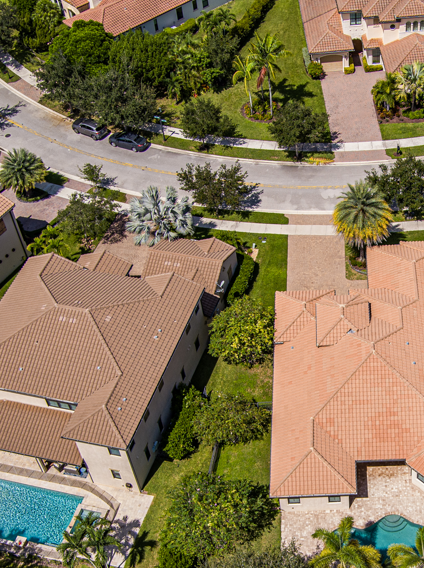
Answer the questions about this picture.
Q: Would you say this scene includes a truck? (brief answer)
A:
No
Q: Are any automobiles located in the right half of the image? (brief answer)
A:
No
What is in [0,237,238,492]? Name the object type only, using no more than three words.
house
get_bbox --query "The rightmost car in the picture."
[106,128,148,150]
